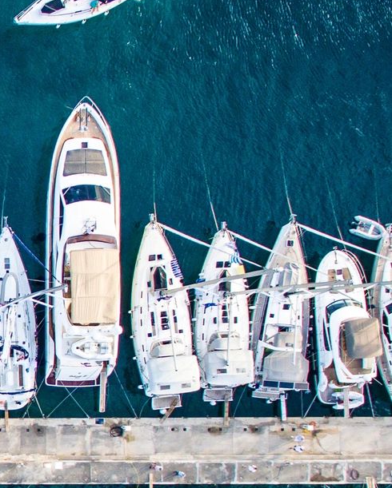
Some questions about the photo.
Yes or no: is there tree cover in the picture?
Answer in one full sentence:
No, the picture contains no tree cover.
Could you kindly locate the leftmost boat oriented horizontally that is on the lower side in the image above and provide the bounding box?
[73,339,116,358]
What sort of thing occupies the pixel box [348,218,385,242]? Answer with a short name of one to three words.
boat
